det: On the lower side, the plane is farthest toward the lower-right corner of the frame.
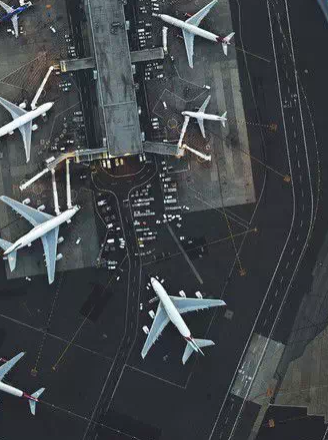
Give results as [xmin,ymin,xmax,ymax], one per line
[141,278,227,360]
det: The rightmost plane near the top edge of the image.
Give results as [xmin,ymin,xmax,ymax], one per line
[159,0,234,67]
